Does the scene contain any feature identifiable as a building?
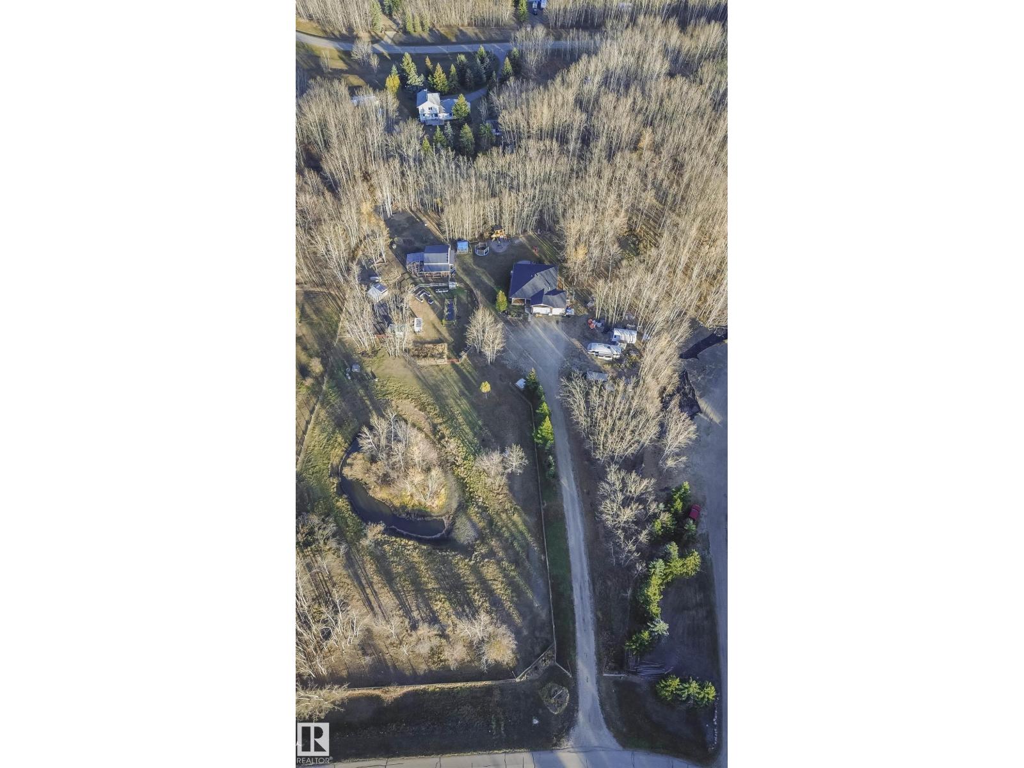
Yes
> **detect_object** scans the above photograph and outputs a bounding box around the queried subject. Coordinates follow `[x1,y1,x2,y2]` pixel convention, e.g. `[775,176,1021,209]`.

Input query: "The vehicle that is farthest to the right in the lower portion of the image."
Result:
[689,500,702,525]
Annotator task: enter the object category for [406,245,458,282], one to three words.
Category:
barn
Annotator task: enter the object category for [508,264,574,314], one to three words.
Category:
house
